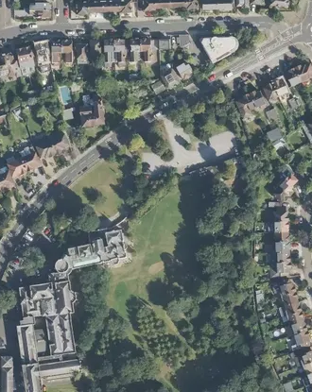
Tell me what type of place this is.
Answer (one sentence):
It's a residential area.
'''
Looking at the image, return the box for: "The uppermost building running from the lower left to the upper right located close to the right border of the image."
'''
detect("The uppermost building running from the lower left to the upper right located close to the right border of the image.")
[289,53,312,85]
